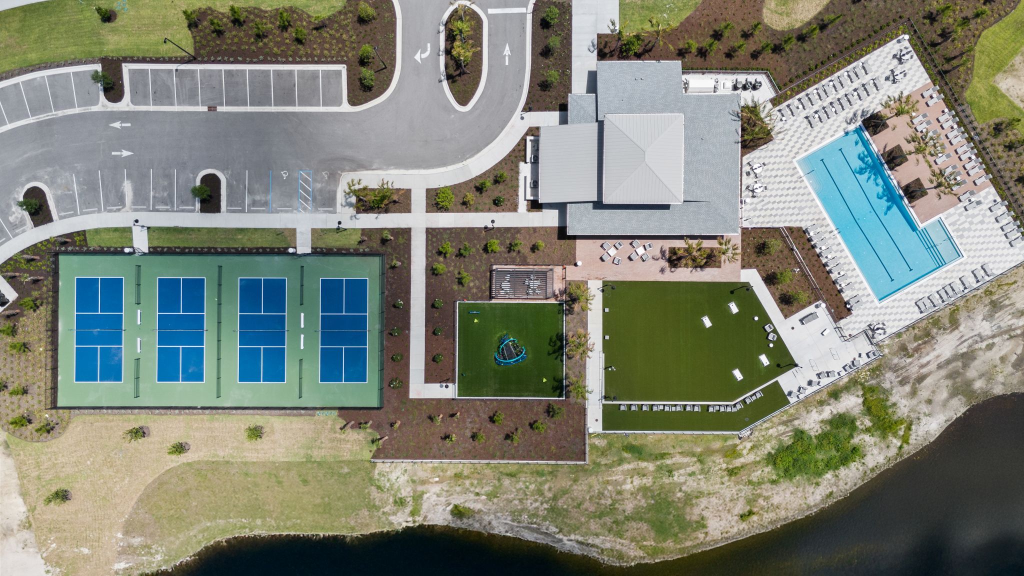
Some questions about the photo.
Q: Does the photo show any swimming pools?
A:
Yes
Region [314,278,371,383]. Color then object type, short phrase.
blue sports court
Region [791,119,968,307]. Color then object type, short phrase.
blue swimming pool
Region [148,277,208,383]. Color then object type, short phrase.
blue sports court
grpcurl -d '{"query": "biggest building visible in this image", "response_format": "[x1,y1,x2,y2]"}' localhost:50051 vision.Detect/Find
[539,60,741,236]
